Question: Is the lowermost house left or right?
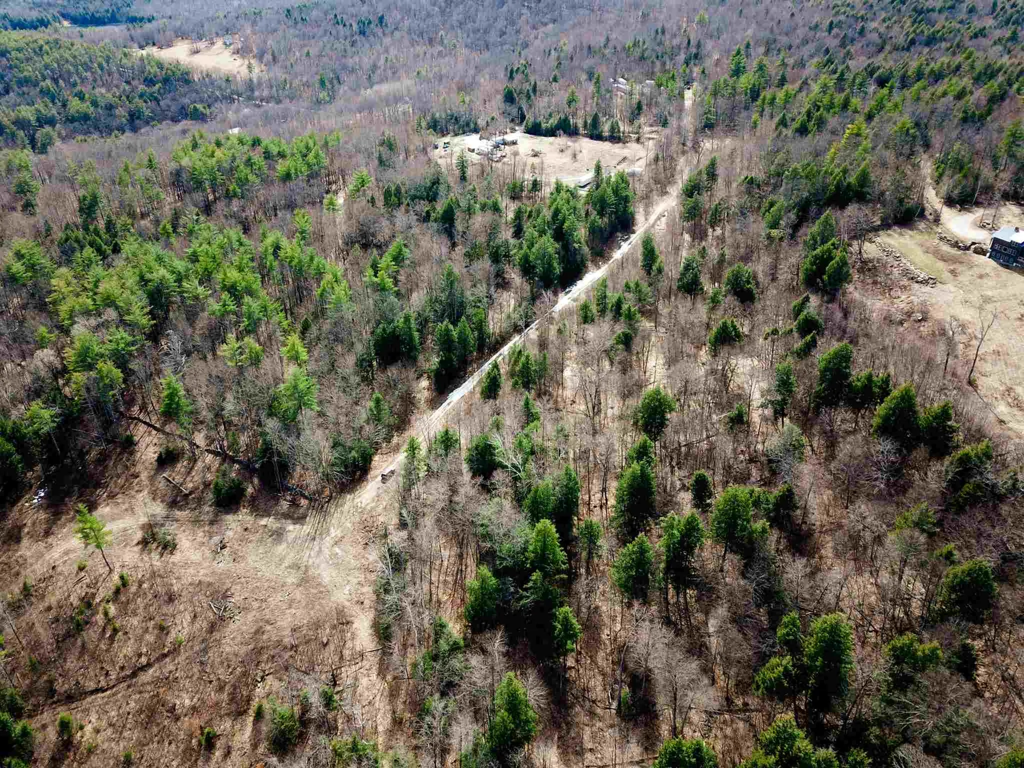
right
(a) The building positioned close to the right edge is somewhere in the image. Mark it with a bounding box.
[984,223,1024,274]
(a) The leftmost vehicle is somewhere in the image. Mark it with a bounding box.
[382,462,399,477]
